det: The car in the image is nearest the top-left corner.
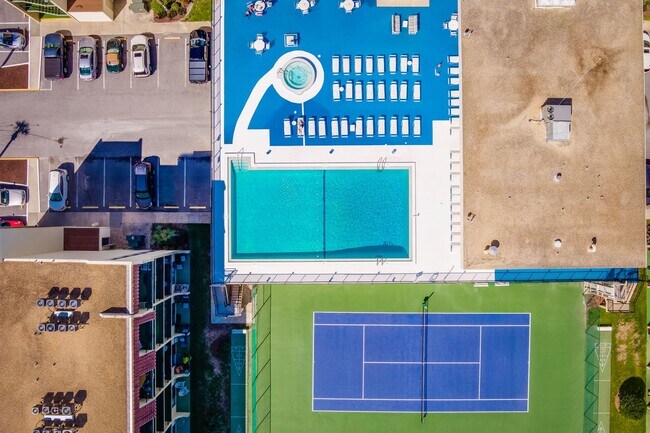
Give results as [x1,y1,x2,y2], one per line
[0,27,22,49]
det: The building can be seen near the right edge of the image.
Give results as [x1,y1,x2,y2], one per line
[458,0,646,270]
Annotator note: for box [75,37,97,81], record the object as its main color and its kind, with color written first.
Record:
gray car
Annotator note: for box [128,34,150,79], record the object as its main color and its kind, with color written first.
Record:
white car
